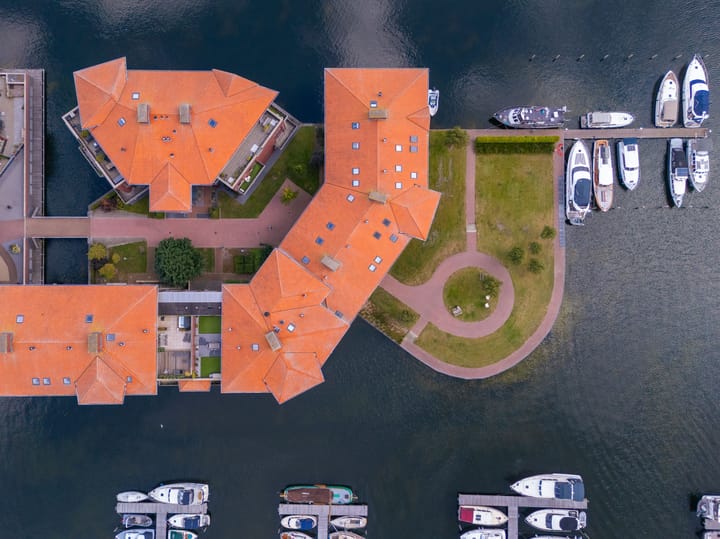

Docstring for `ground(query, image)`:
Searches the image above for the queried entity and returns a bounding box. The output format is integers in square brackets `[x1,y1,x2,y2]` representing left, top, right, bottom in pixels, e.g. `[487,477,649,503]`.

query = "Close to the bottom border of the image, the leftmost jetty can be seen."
[112,502,209,539]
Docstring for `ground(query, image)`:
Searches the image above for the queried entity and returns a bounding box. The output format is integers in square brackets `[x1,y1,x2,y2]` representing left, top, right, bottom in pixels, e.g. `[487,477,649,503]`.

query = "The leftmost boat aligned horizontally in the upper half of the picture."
[486,106,573,131]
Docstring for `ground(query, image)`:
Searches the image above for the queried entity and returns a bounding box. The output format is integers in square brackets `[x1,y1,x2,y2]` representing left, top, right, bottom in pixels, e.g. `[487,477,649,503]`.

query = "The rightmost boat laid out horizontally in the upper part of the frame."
[572,111,641,130]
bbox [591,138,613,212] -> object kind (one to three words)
boat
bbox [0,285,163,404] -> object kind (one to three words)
building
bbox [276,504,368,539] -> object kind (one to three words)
pier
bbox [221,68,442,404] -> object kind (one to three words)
building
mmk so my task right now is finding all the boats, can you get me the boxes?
[510,473,586,502]
[330,514,367,539]
[678,55,708,129]
[120,513,152,528]
[281,514,317,531]
[281,529,314,539]
[148,481,212,505]
[614,137,642,207]
[461,526,507,539]
[458,505,508,526]
[685,137,714,206]
[666,137,690,208]
[701,529,720,539]
[526,508,579,532]
[652,70,681,129]
[167,512,210,530]
[330,528,366,539]
[115,527,155,539]
[561,138,590,227]
[572,111,641,130]
[117,491,148,502]
[429,89,439,116]
[486,106,573,131]
[692,493,720,519]
[579,511,588,526]
[168,528,197,539]
[591,138,613,212]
